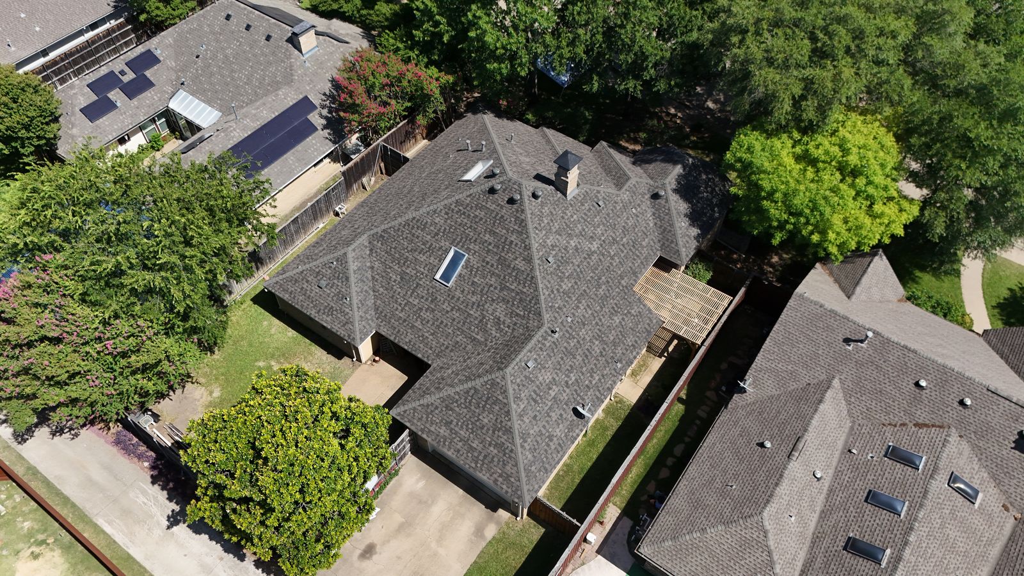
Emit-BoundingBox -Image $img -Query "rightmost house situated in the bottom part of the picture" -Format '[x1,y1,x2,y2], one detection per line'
[633,250,1024,576]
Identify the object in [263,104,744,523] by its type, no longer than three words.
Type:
house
